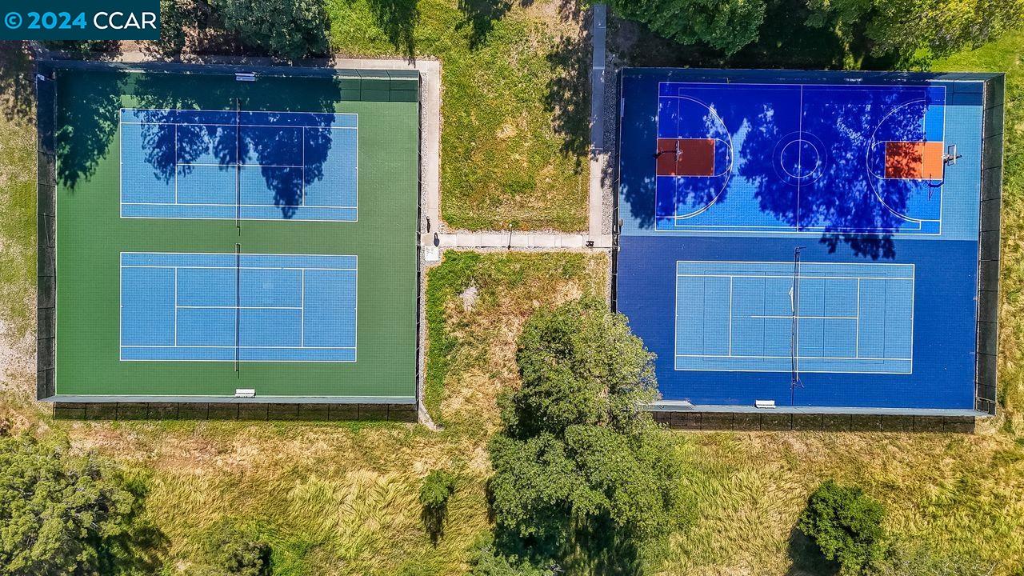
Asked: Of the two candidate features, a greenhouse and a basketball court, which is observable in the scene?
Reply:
basketball court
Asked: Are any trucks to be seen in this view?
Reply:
No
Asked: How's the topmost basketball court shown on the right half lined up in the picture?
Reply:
horizontally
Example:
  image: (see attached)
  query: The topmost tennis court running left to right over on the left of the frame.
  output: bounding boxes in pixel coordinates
[120,109,358,221]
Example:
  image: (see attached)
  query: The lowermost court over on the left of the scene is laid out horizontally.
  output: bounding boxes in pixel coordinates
[120,253,357,363]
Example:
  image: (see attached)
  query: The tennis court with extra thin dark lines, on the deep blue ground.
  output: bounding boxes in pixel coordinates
[675,261,915,373]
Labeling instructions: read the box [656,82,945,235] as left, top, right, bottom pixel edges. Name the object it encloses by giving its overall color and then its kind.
blue basketball court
